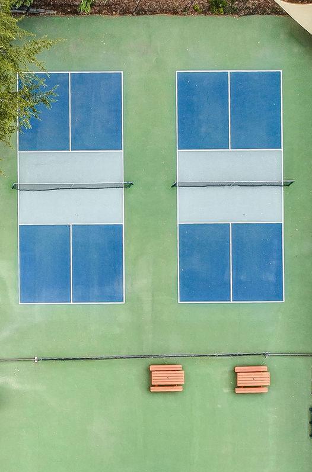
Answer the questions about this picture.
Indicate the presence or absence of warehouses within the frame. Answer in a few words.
No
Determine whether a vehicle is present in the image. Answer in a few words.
No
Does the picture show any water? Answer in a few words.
No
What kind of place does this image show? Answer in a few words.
sports ground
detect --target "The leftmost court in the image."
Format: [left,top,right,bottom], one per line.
[18,71,125,304]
